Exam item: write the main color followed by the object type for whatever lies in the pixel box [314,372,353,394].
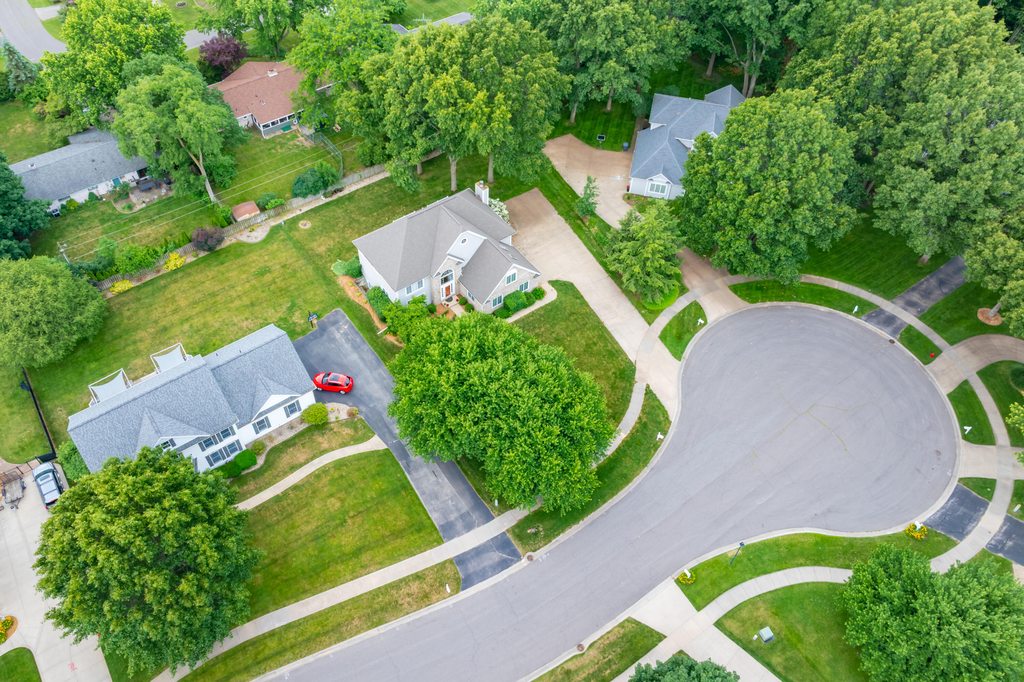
red car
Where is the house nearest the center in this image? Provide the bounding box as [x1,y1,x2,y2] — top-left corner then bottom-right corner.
[352,179,542,314]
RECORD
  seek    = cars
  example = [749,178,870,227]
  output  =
[314,372,353,394]
[33,467,68,517]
